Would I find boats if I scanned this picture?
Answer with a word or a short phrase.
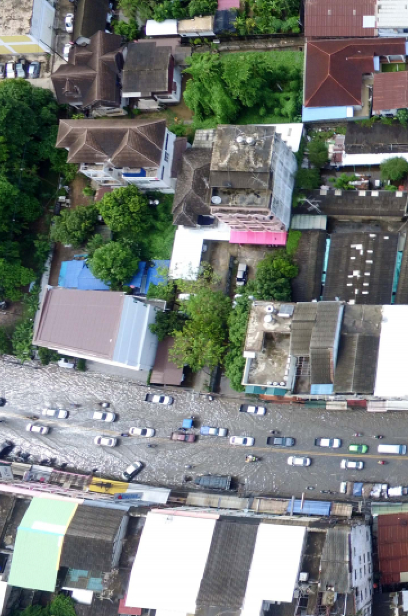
No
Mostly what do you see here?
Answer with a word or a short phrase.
buildings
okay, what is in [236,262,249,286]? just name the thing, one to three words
vehicle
